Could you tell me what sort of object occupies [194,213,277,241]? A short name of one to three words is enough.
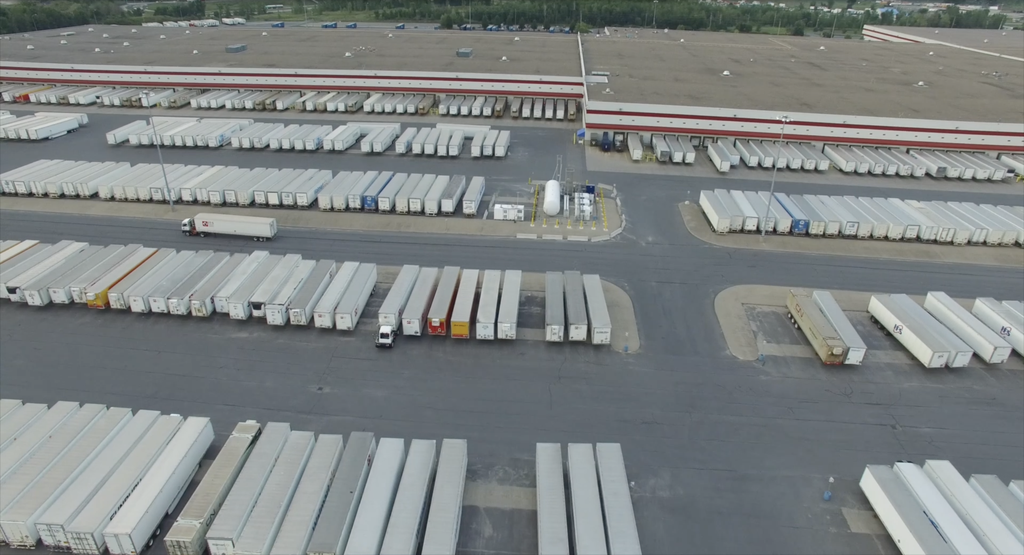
trailer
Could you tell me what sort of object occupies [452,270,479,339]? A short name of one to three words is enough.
trailer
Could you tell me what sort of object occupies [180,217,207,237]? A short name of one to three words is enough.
vehicle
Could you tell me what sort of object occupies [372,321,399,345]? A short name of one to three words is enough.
truck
